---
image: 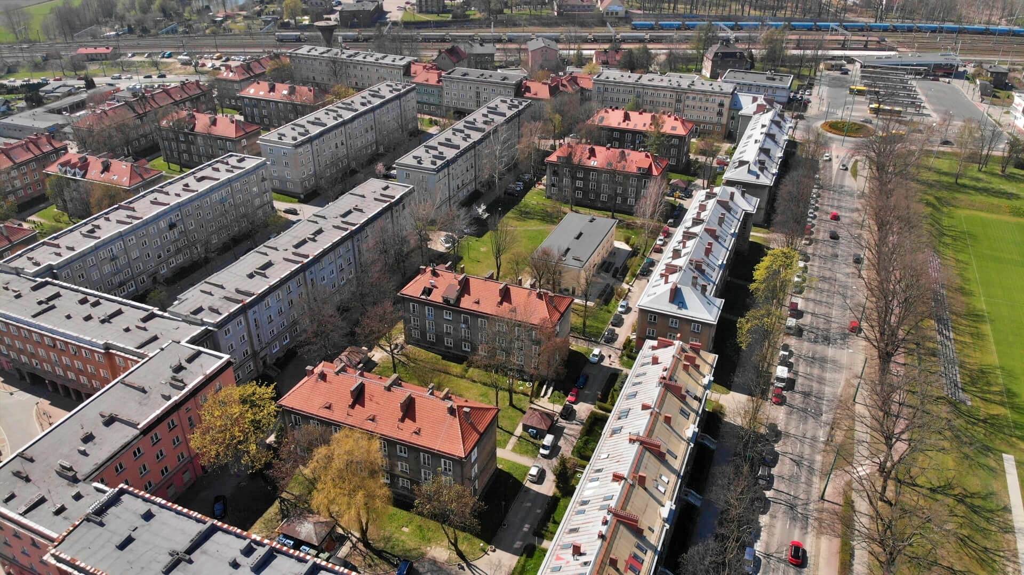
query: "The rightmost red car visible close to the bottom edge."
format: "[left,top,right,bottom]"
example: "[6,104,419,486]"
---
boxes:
[787,539,805,571]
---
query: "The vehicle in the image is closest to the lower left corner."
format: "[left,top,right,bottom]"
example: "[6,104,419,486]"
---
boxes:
[211,493,227,520]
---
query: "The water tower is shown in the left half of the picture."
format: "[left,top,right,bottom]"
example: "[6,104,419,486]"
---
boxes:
[312,20,336,47]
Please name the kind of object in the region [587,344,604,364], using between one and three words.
car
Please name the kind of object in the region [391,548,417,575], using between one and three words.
vehicle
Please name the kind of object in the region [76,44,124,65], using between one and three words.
shed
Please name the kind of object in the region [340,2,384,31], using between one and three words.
shed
